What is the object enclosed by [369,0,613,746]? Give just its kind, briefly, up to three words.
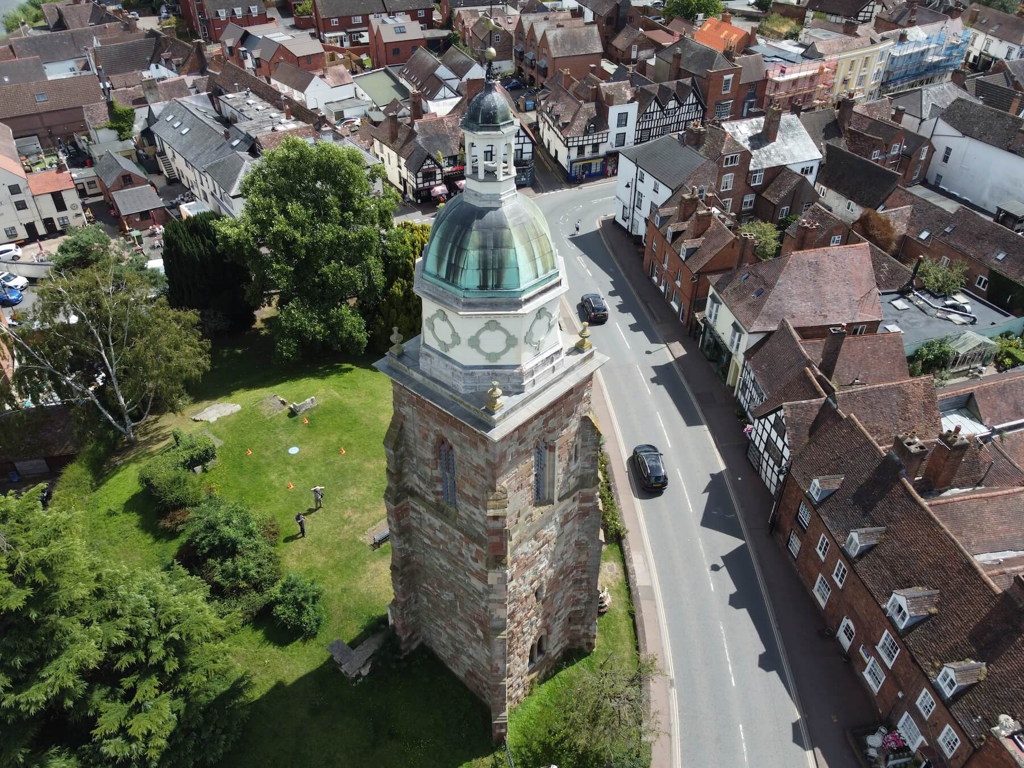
building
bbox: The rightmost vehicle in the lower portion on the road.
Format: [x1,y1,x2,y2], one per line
[633,447,674,496]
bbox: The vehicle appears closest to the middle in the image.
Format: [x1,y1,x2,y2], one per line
[582,293,611,320]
